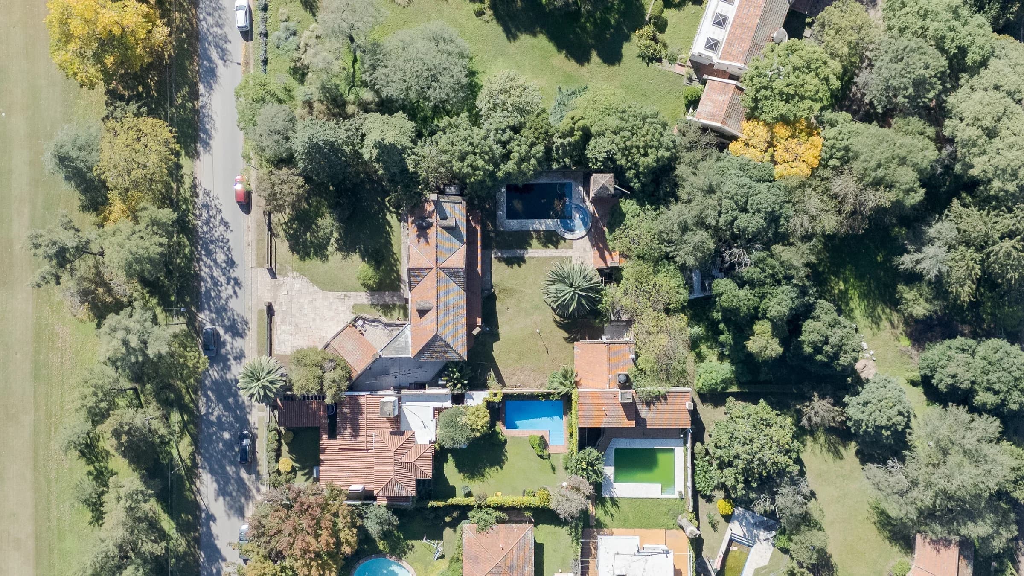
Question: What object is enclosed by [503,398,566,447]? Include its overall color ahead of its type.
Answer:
blue swimming pool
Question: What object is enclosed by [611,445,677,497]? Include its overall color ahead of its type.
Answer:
green swimming pool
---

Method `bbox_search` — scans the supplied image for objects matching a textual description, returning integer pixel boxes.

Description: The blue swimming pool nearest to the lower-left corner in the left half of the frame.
[351,552,415,576]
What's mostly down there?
trees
